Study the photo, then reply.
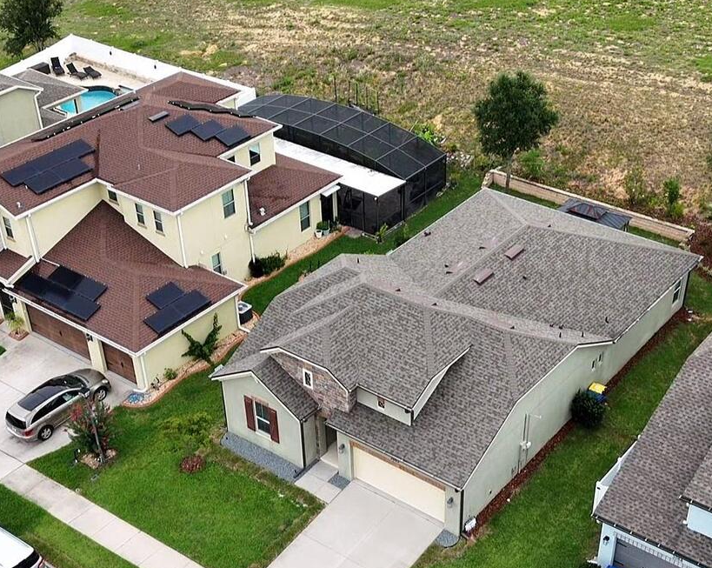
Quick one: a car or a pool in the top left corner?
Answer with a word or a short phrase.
pool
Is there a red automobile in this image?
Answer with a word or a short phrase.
No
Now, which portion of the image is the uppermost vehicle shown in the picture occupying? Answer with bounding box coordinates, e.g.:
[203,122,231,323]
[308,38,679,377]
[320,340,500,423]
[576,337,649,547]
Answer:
[3,365,112,440]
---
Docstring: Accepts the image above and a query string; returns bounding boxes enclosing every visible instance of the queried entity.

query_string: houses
[208,188,702,541]
[0,72,342,391]
[590,333,712,568]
